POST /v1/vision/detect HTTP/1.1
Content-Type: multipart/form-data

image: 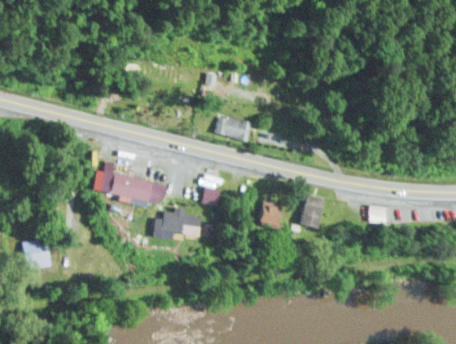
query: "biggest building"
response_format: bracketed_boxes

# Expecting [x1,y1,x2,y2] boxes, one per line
[93,162,166,208]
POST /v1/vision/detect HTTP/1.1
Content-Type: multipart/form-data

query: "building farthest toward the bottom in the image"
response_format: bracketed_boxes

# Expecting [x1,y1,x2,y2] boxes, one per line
[22,241,54,273]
